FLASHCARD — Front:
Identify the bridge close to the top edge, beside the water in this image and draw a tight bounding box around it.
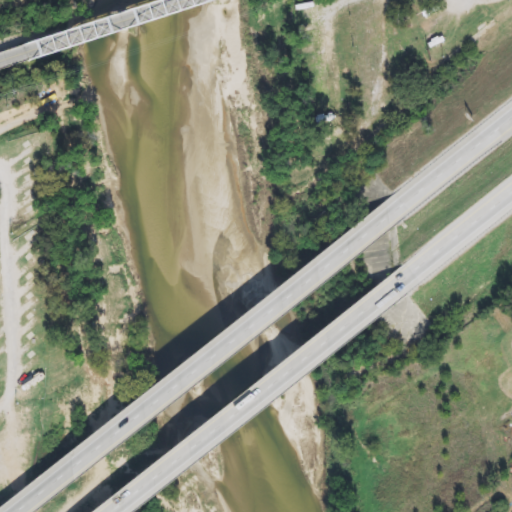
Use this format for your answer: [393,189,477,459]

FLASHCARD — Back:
[0,0,211,67]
